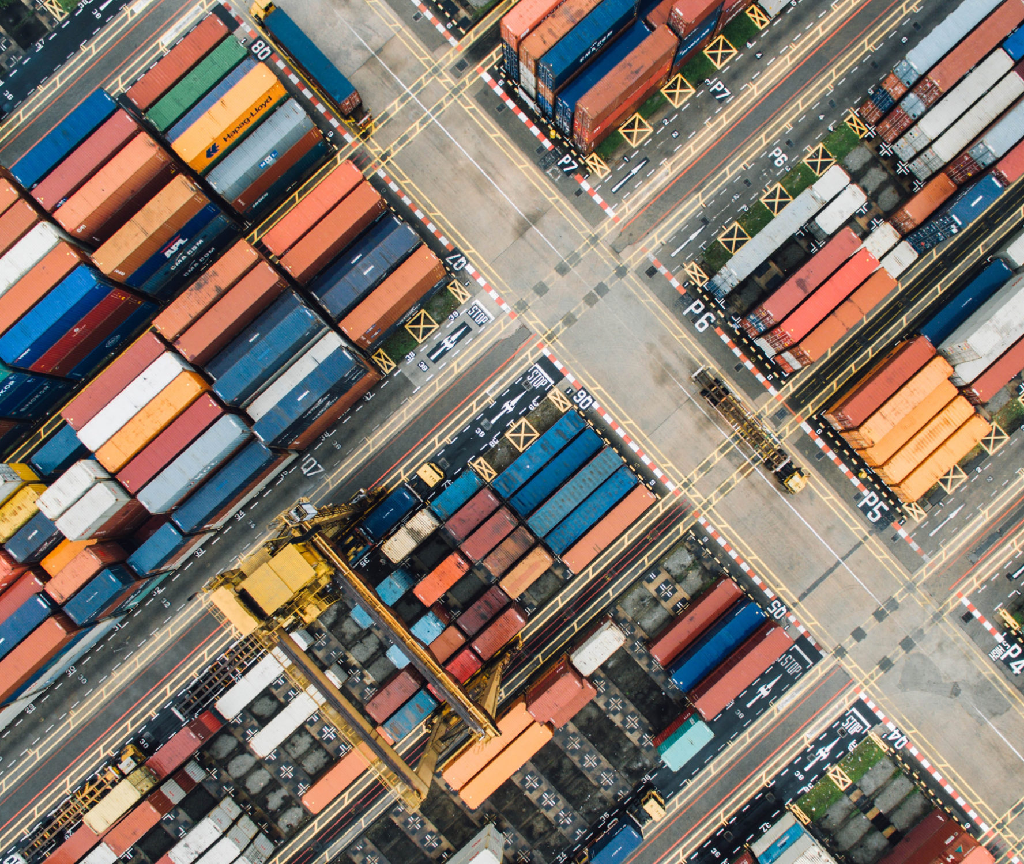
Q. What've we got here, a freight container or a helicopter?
freight container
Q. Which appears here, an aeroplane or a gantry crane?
gantry crane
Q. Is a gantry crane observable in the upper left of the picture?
No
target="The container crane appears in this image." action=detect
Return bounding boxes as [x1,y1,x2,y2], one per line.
[194,480,531,806]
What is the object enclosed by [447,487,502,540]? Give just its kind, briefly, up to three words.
shipping container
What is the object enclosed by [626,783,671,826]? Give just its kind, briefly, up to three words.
truck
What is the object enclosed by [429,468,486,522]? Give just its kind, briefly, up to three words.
shipping container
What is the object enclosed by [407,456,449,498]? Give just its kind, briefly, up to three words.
truck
